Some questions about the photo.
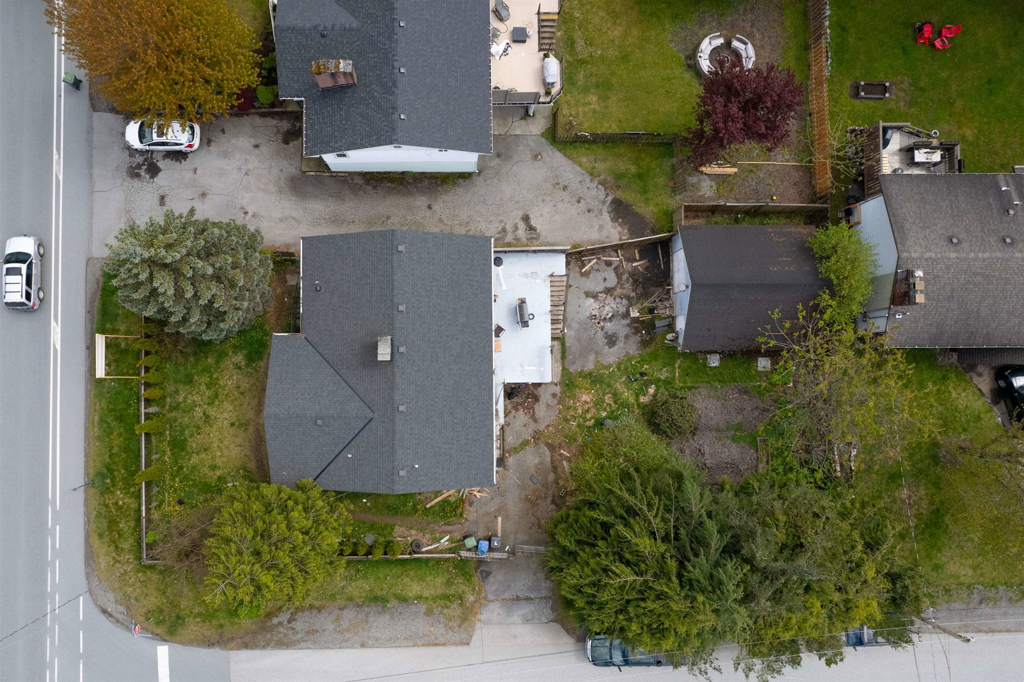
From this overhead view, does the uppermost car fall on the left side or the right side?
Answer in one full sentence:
The uppermost car sits on the left side.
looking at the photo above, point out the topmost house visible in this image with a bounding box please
[268,0,494,174]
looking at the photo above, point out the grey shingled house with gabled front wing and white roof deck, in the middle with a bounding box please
[264,232,497,494]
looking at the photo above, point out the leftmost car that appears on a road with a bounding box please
[1,235,45,310]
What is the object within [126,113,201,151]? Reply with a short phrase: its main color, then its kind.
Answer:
white car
